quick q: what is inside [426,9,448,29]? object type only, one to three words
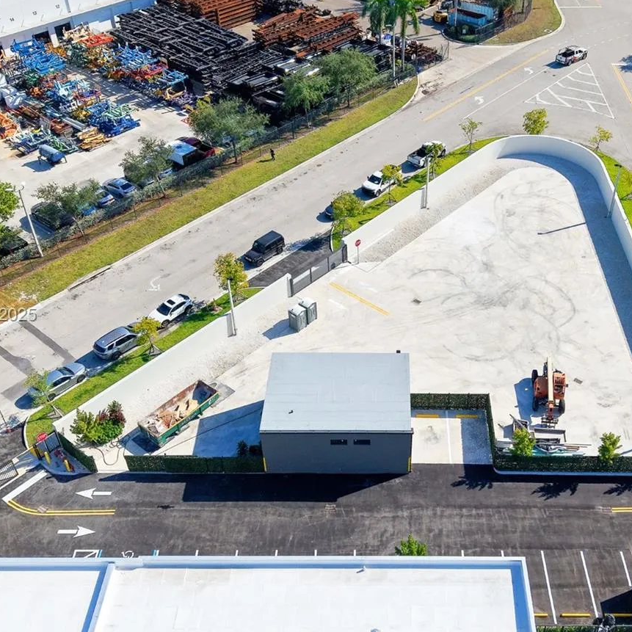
work vehicle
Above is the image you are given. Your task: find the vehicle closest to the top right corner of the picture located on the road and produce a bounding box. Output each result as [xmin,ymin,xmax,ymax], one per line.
[552,45,590,67]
